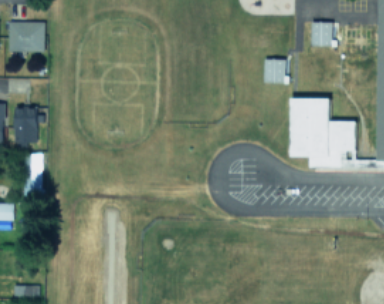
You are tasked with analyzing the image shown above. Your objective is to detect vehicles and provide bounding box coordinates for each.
[286,190,300,195]
[22,6,27,17]
[276,188,285,198]
[12,4,18,16]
